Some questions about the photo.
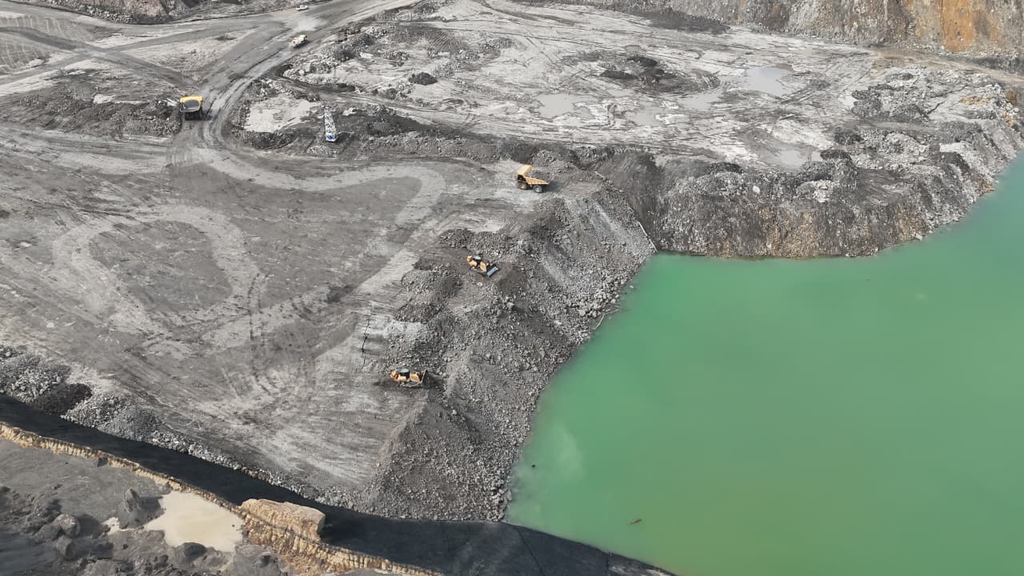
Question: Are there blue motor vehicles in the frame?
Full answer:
No, this view has no blue motor vehicle in it.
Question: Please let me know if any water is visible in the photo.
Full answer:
Yes, there's water in this view.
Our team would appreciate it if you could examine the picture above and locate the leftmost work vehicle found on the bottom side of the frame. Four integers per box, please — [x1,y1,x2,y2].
[392,367,432,391]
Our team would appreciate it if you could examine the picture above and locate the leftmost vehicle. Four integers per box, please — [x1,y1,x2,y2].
[177,90,200,121]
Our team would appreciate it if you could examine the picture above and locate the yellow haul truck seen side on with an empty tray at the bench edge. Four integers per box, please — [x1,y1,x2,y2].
[515,163,553,193]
